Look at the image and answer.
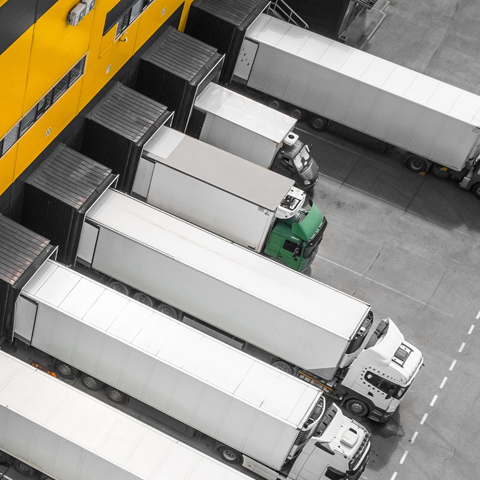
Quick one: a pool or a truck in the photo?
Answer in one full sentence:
The image shows a truck.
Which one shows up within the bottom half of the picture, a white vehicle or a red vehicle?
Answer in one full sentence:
The feature located within the bottom half of the picture is a white vehicle.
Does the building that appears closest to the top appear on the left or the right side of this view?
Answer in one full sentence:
You can find the building that appears closest to the top on the right side of the picture.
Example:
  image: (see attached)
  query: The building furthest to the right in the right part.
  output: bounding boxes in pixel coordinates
[268,0,362,39]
